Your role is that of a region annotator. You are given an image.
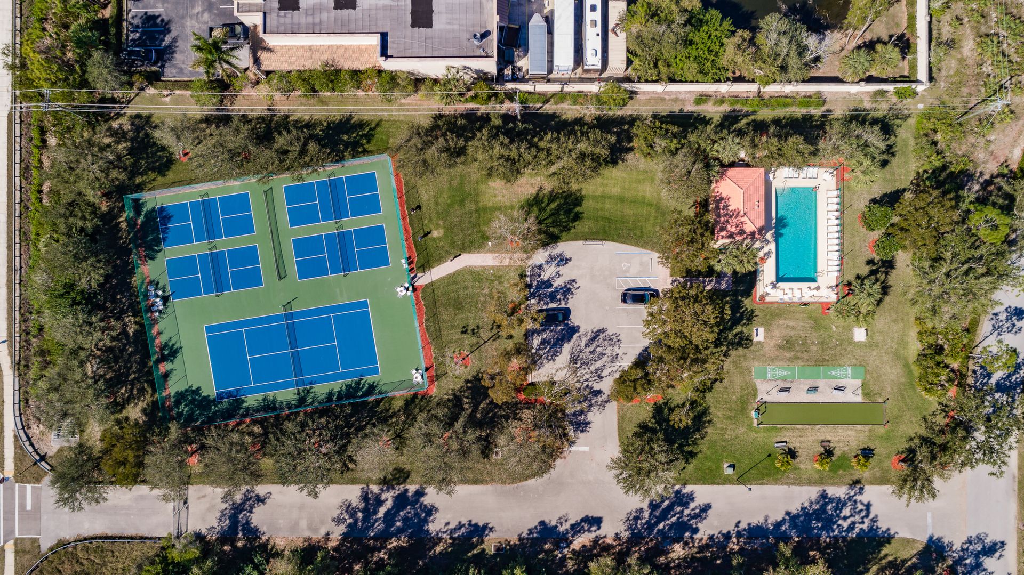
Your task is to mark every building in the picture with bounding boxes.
[234,0,508,77]
[712,167,767,240]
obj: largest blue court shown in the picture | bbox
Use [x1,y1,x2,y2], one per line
[205,299,380,400]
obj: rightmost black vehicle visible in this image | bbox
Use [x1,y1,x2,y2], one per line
[622,288,656,304]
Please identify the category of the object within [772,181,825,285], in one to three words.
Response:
swimming pool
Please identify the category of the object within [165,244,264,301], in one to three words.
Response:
sports court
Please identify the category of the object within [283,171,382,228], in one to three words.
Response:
sports court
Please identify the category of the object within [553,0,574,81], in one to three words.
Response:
trailer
